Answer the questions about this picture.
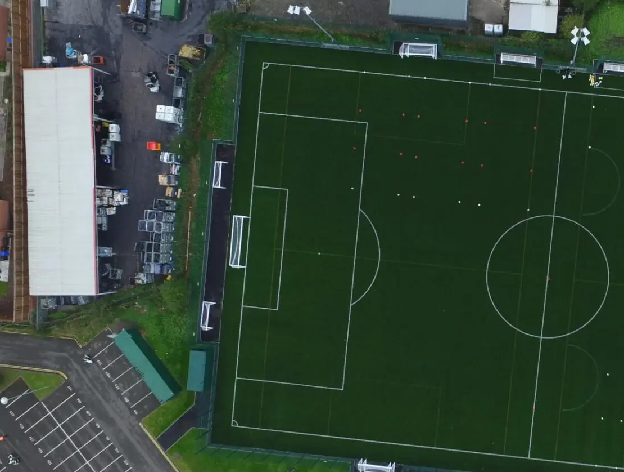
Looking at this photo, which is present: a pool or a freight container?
freight container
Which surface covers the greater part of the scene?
grass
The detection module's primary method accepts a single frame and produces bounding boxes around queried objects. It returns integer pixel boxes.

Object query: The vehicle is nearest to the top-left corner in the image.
[61,38,75,59]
